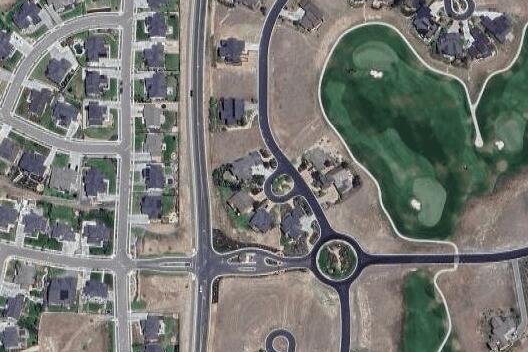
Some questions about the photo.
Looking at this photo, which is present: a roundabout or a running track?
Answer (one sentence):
It is a roundabout that can be seen here.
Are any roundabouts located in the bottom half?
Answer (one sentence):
Yes, a roundabout can be seen in the bottom half.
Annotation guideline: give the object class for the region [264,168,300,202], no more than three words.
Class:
roundabout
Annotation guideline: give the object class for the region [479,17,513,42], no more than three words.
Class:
house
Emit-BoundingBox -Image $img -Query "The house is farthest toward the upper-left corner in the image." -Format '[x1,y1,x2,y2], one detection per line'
[12,4,41,28]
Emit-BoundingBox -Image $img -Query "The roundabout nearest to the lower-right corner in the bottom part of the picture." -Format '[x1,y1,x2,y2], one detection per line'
[308,232,366,289]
